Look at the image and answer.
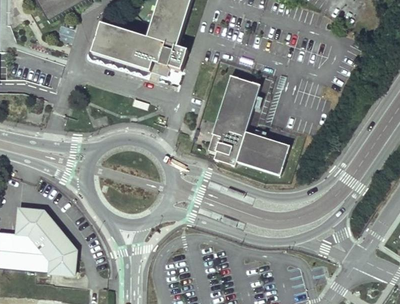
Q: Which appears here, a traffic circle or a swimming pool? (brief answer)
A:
traffic circle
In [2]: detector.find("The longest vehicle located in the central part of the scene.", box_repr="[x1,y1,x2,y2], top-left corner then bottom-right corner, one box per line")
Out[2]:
[164,153,189,174]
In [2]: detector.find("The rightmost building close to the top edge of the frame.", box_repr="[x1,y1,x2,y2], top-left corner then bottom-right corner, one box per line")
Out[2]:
[90,0,193,93]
